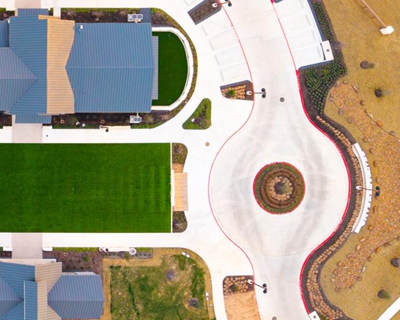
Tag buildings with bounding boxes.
[0,7,159,124]
[0,261,107,320]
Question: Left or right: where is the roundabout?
right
